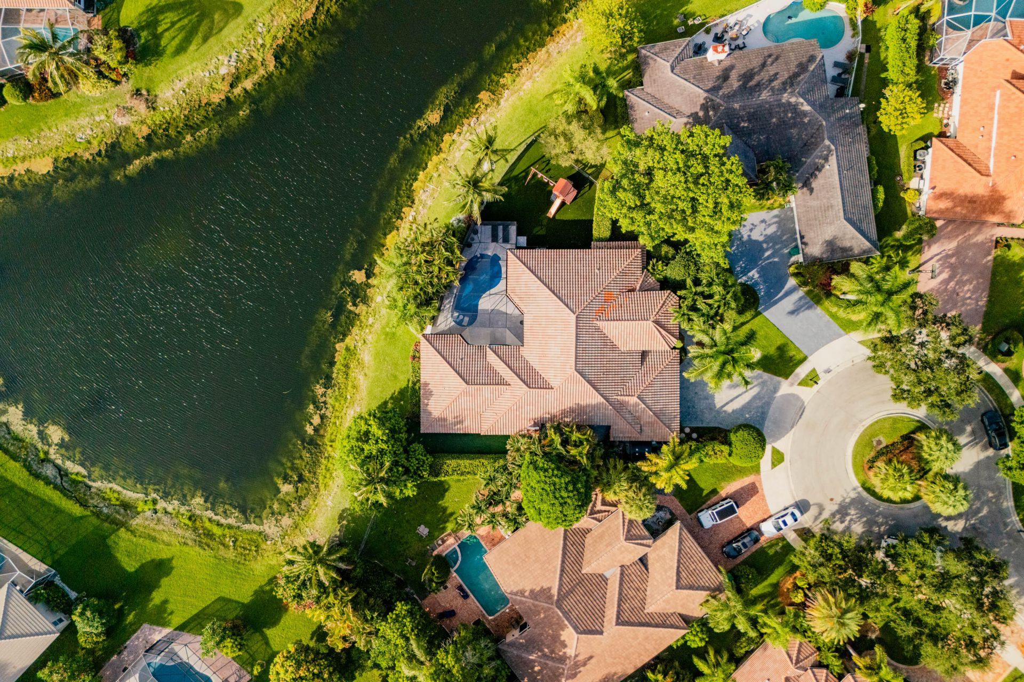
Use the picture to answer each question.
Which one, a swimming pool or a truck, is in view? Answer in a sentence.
The image shows a swimming pool.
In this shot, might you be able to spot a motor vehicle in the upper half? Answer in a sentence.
No, in the upper half there is no motor vehicle.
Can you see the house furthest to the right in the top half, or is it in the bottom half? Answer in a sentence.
The house furthest to the right sits in the top half of the picture.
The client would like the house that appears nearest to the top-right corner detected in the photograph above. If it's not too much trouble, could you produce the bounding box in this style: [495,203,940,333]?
[917,20,1024,225]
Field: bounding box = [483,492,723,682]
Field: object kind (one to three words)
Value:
house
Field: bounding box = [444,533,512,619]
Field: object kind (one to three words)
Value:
swimming pool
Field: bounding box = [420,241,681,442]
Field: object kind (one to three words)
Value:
house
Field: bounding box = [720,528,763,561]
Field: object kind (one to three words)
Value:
car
